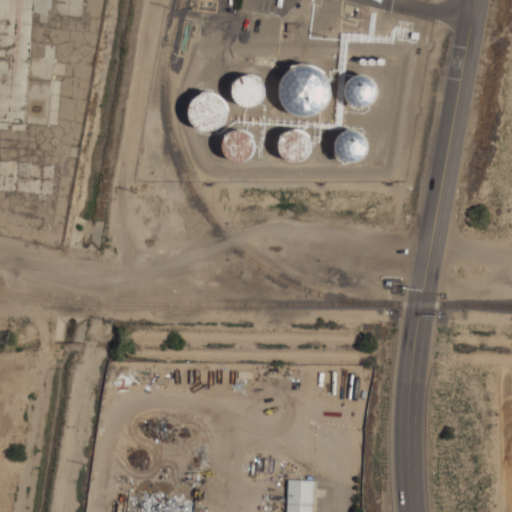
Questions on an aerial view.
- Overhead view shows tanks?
Yes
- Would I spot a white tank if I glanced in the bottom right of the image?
No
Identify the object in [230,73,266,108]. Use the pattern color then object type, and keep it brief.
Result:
white storage tank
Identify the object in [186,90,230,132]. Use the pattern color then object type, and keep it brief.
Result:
white storage tank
